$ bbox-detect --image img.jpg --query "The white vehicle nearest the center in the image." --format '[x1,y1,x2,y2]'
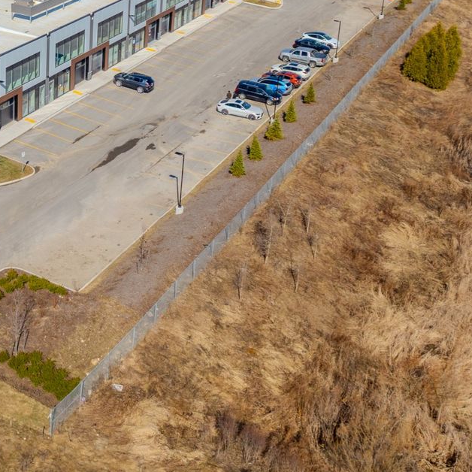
[218,96,268,120]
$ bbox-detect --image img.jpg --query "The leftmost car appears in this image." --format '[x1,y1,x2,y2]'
[113,72,157,93]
